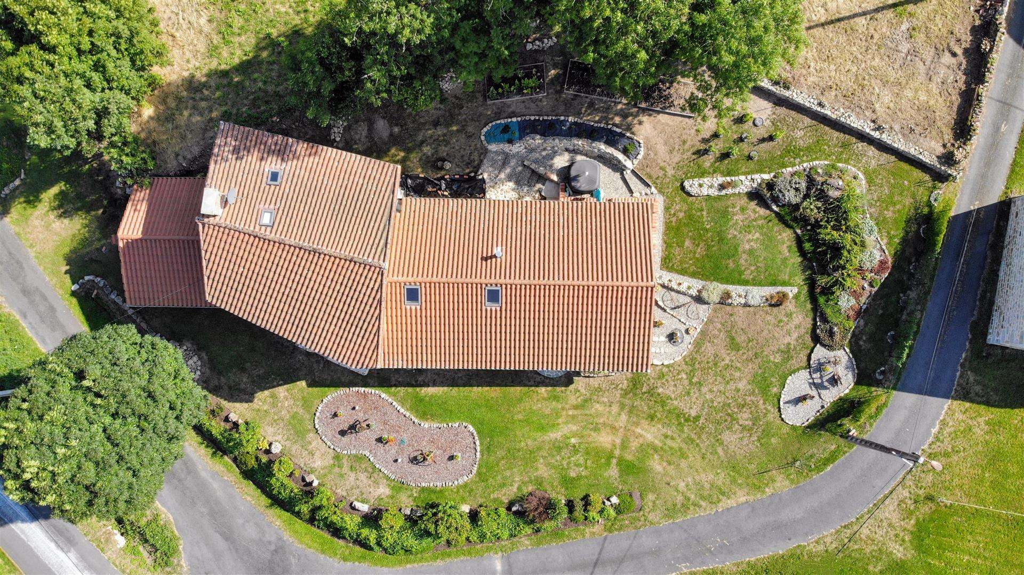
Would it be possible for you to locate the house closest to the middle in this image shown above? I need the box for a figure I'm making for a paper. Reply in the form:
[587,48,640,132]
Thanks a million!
[381,196,660,374]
